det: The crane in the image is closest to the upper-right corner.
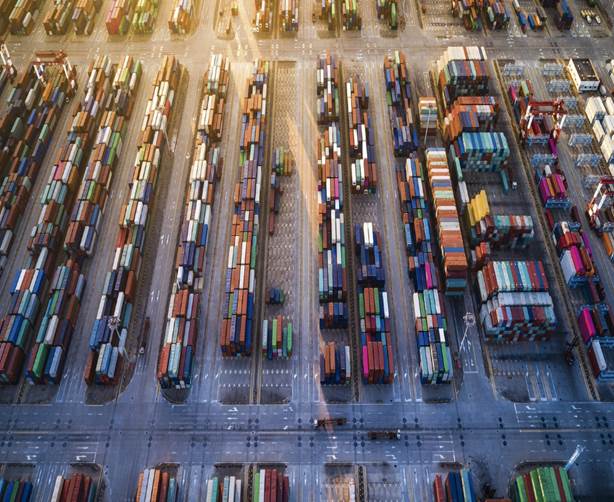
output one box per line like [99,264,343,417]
[519,98,574,144]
